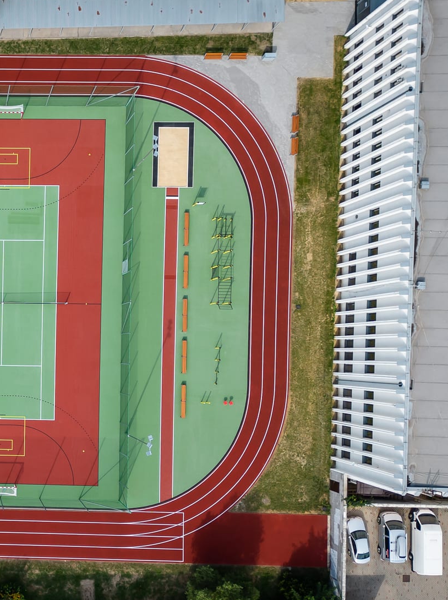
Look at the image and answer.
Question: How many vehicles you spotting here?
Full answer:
The count of vehicles comes to 3.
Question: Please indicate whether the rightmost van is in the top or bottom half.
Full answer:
You can find the rightmost van in the bottom half.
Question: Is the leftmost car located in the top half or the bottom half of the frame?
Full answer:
It is in the bottom half that the leftmost car appears.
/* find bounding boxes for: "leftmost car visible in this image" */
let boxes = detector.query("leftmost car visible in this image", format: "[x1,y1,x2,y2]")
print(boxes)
[347,518,368,563]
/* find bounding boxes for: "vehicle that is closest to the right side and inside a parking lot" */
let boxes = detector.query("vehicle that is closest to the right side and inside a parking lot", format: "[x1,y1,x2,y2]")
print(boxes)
[406,510,442,576]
